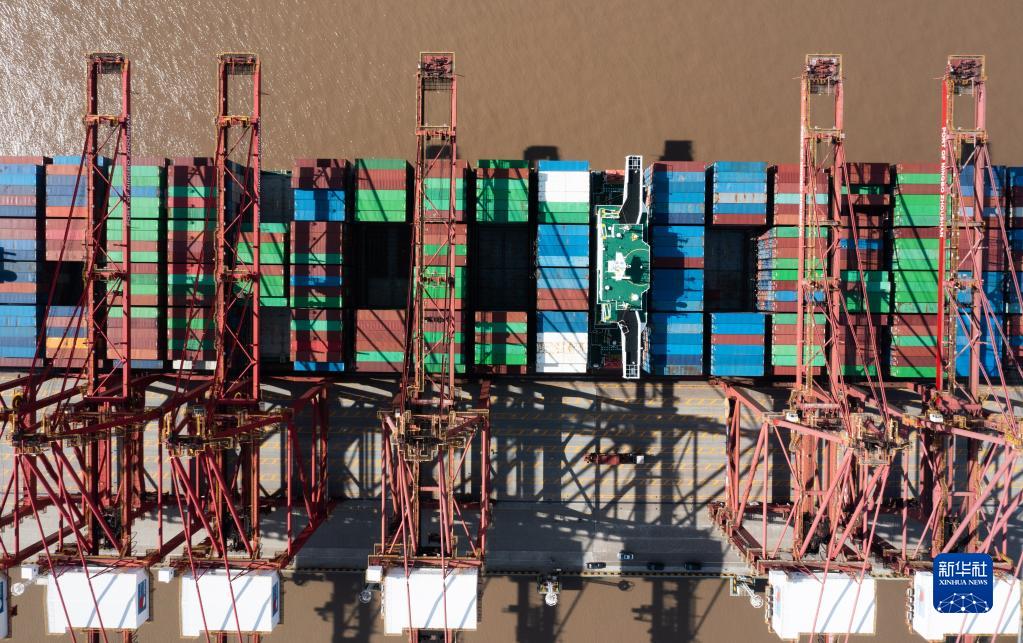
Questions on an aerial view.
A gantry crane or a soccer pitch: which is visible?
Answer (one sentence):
This aerial view contains a gantry crane.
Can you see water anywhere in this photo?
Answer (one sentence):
Yes, some water is visible.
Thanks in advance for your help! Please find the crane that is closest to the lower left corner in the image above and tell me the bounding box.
[0,371,131,623]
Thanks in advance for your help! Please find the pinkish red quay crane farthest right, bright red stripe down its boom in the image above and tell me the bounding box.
[809,55,1023,643]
